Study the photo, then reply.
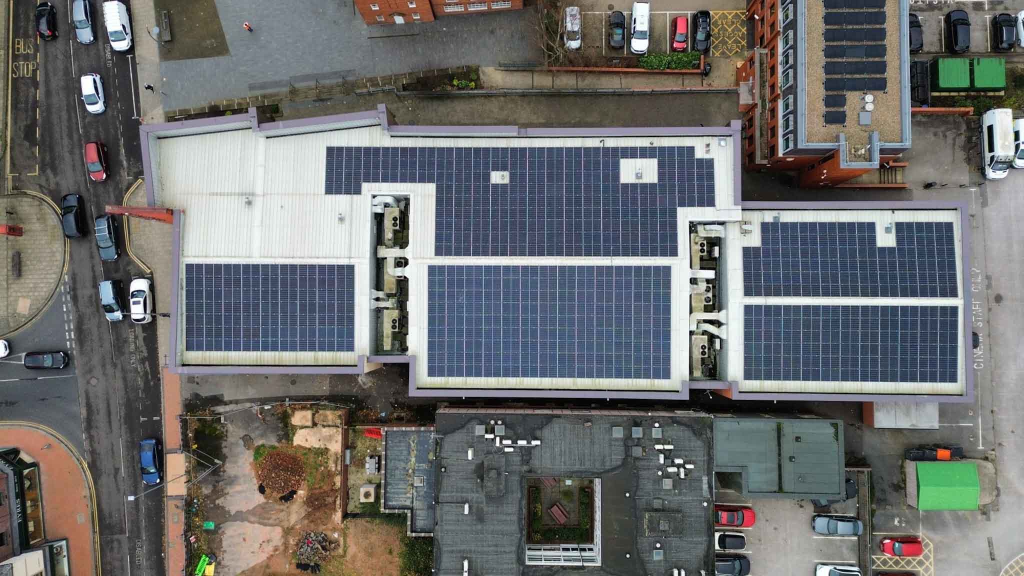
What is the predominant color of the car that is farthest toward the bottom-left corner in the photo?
blue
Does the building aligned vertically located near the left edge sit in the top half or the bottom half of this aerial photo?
bottom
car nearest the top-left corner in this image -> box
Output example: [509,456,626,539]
[35,4,59,40]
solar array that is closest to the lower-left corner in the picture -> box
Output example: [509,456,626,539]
[186,264,355,352]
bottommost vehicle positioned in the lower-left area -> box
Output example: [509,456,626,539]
[140,439,163,484]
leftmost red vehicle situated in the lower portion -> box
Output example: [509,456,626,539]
[715,506,756,527]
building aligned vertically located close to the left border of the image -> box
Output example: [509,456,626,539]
[0,448,44,558]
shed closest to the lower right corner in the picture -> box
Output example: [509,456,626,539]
[908,460,979,510]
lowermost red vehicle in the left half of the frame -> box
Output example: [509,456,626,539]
[85,143,111,180]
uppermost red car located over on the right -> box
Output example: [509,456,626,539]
[671,16,690,53]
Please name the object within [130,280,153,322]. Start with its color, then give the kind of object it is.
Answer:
white car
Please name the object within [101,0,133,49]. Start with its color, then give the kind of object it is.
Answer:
white van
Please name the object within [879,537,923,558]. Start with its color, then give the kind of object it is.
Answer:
red car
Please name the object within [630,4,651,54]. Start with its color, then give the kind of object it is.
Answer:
white car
